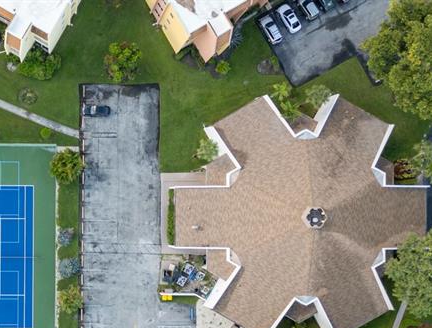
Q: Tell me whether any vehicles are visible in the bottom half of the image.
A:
No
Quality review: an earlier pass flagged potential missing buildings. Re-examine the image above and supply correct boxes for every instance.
[168,89,431,328]
[144,0,262,61]
[0,0,93,62]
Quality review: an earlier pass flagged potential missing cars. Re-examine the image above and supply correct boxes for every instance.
[260,16,283,46]
[295,0,319,23]
[83,104,112,117]
[317,0,334,11]
[277,5,299,34]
